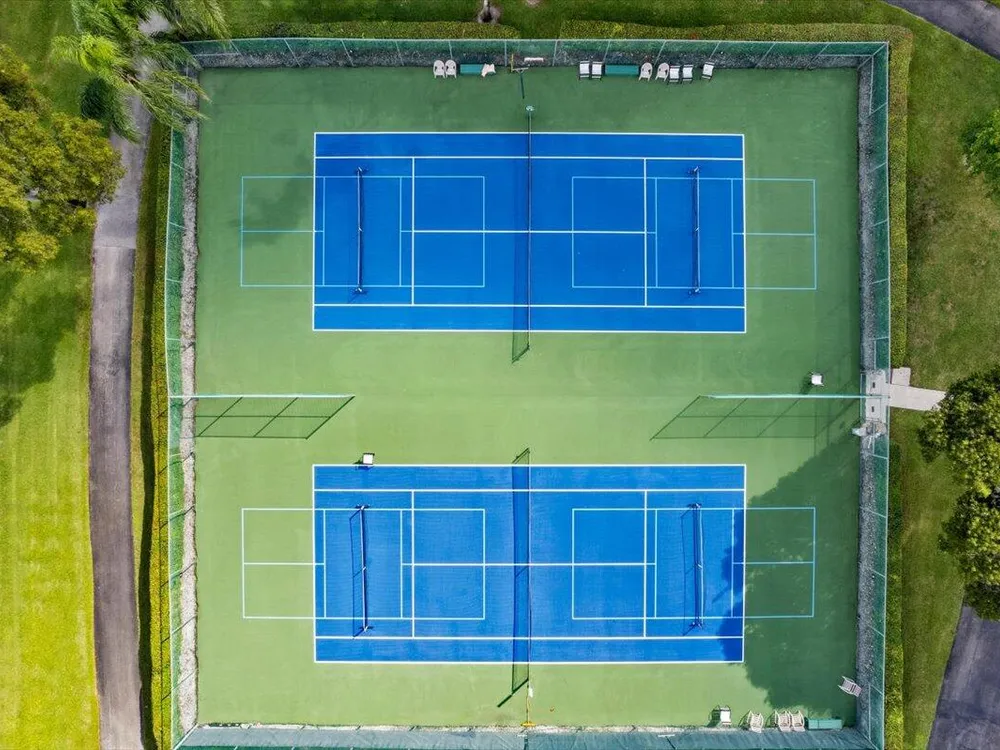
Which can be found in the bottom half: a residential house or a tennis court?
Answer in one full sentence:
Visible in the bottom half is a tennis court.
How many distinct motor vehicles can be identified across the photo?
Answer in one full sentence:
There are no motor vehicles in the image.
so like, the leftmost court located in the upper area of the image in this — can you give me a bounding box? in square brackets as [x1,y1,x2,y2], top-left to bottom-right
[239,176,485,287]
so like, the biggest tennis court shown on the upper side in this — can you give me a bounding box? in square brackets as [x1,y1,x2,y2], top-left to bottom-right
[312,132,746,333]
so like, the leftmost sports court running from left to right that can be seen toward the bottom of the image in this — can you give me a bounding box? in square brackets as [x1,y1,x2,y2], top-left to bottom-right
[241,508,485,619]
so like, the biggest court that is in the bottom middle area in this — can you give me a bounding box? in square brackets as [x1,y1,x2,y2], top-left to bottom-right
[313,464,745,663]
